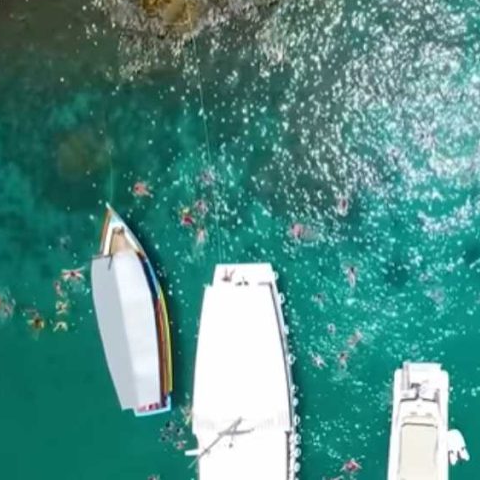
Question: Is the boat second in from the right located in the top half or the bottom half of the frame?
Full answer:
The boat second in from the right is in the bottom half of the image.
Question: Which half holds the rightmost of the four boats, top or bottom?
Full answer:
It is in the bottom half that the rightmost of the four boats appears.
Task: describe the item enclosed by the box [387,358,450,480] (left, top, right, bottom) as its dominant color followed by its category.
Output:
white boat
